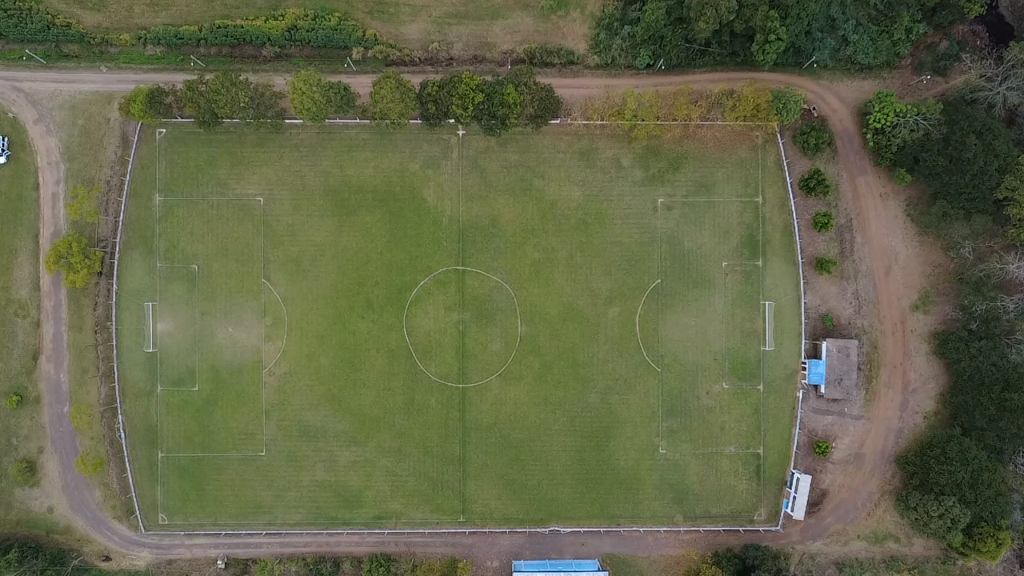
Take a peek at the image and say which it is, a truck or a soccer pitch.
soccer pitch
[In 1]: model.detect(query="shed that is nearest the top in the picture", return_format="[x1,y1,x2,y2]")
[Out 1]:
[800,339,858,400]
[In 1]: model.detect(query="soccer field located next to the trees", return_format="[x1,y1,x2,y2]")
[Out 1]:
[118,125,801,529]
